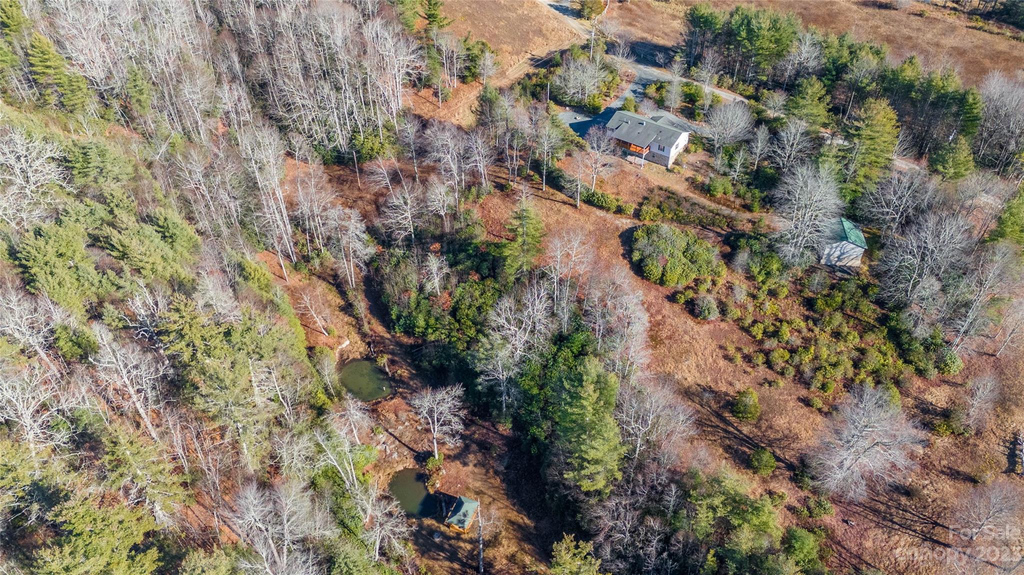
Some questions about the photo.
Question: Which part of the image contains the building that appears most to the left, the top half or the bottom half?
bottom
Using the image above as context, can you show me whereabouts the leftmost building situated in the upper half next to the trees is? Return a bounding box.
[606,109,691,167]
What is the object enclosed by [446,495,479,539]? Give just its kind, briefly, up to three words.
building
